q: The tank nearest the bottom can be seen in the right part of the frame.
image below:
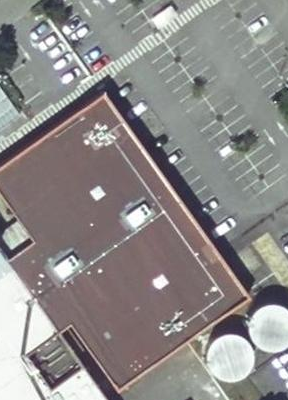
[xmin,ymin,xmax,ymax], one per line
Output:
[206,334,256,383]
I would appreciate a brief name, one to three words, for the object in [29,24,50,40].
car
